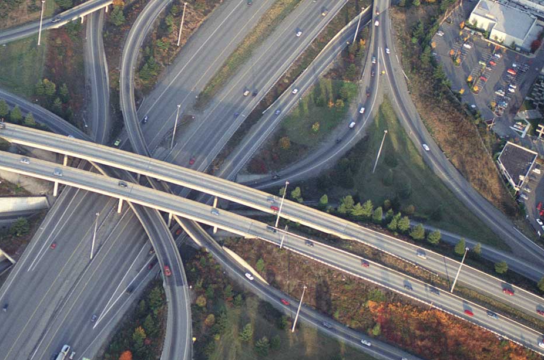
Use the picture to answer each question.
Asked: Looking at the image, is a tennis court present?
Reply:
No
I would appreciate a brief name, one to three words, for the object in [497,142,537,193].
building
